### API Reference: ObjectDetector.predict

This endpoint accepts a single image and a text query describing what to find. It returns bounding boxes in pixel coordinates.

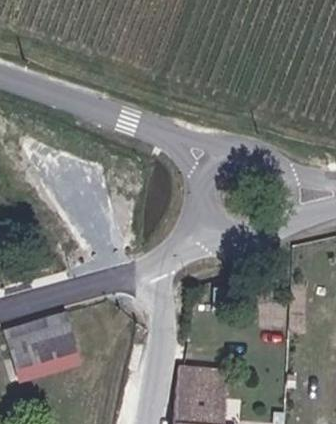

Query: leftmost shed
[4,312,86,384]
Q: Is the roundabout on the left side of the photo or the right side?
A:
right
